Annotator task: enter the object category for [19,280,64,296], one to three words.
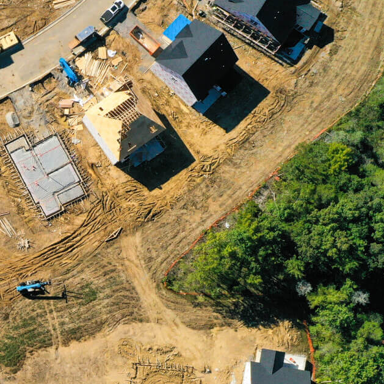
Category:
work vehicle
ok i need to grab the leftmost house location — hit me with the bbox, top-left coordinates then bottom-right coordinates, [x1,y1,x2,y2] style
[80,72,169,164]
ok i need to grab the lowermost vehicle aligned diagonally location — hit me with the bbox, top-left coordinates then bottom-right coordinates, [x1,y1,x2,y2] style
[60,57,88,95]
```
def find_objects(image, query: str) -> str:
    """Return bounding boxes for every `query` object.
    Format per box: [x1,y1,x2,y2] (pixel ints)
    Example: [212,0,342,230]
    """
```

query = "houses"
[208,0,327,59]
[241,346,311,384]
[80,72,169,164]
[147,13,238,114]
